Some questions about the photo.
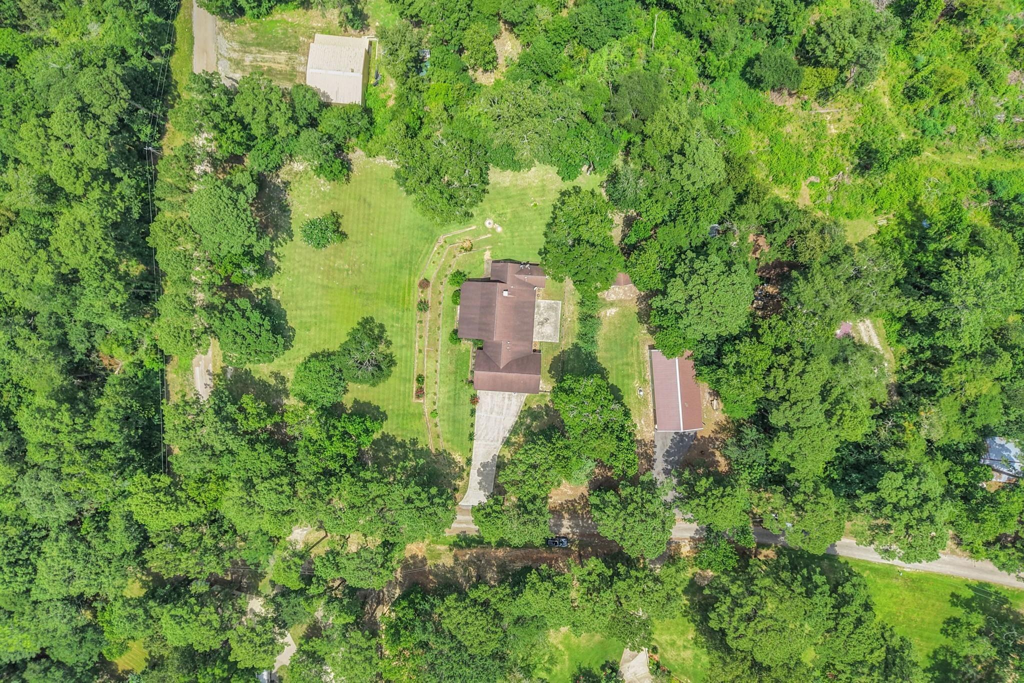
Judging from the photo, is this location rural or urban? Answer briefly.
rural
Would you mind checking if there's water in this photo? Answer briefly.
No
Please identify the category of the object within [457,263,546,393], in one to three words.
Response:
house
